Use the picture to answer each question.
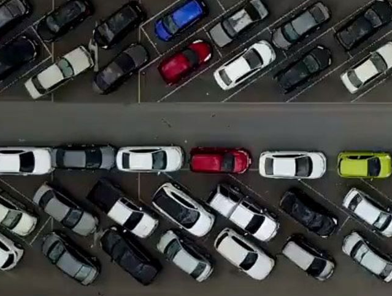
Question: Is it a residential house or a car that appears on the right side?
car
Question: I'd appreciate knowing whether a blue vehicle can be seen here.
Yes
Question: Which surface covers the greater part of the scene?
paved ground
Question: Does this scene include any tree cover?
No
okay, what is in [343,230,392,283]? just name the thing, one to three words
car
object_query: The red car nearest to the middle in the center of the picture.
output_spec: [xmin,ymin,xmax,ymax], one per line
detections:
[190,146,251,177]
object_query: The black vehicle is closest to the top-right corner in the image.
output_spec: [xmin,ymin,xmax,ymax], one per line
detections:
[336,0,392,50]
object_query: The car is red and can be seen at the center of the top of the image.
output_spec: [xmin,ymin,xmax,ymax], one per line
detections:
[159,40,213,83]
